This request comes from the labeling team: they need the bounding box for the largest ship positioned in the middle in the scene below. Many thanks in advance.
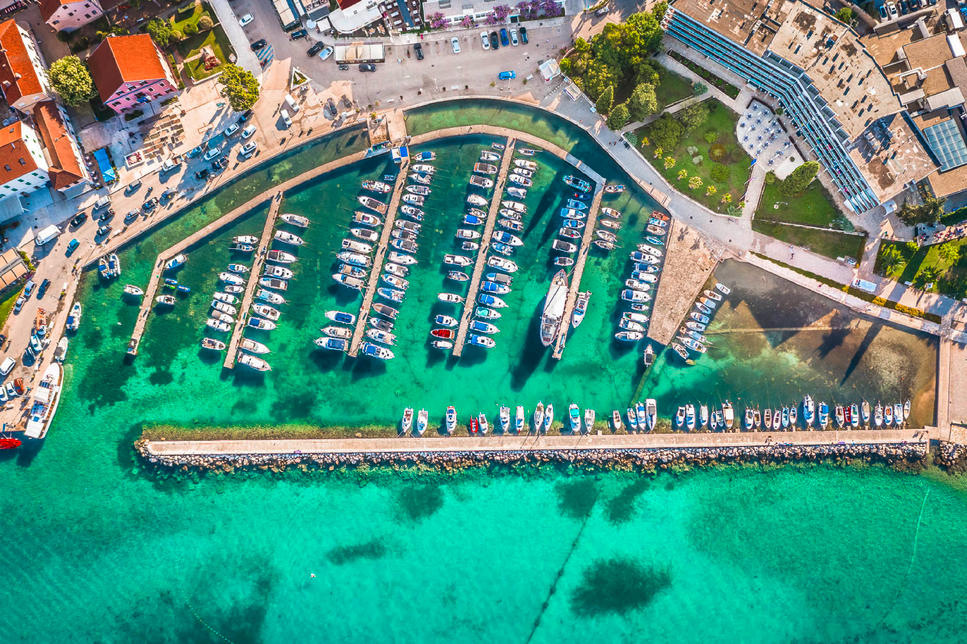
[537,263,568,347]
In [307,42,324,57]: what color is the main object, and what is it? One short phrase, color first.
black car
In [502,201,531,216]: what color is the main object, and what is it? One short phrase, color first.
white boat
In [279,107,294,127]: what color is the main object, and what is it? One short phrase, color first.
white vehicle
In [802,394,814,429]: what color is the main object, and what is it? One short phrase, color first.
white boat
